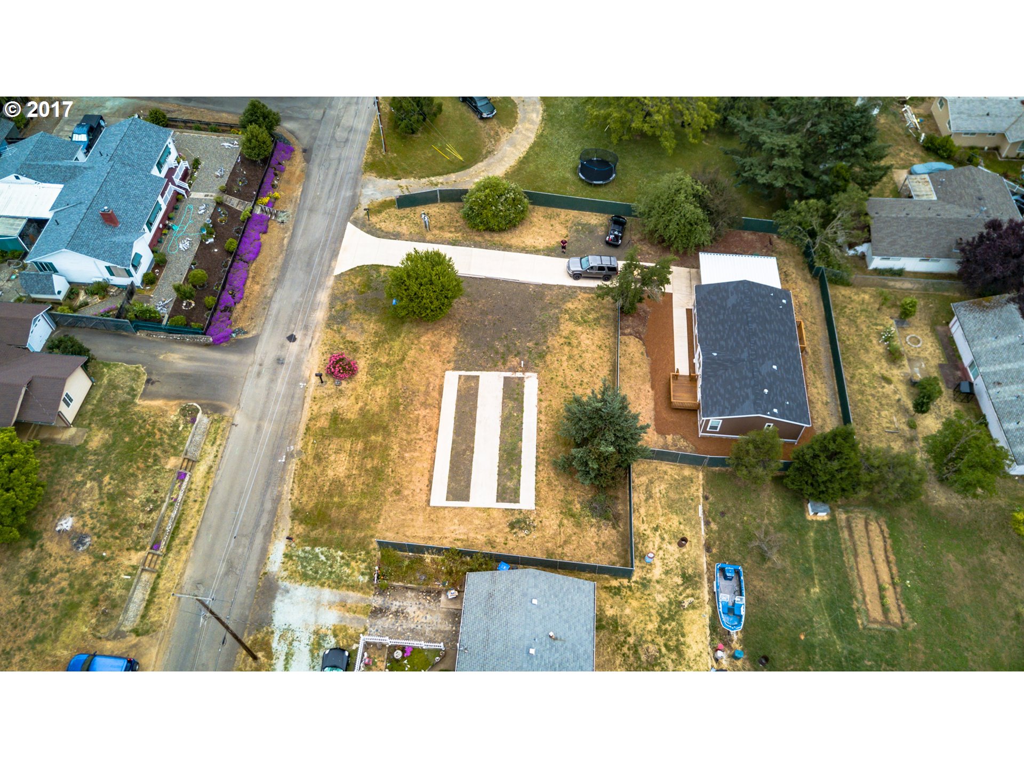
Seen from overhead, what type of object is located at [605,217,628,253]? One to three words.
truck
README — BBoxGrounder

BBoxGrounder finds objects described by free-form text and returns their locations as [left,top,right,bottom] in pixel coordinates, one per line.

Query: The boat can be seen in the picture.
[712,564,745,627]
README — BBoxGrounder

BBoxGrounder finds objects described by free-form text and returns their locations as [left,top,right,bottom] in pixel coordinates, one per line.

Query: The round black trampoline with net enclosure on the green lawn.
[578,148,616,186]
